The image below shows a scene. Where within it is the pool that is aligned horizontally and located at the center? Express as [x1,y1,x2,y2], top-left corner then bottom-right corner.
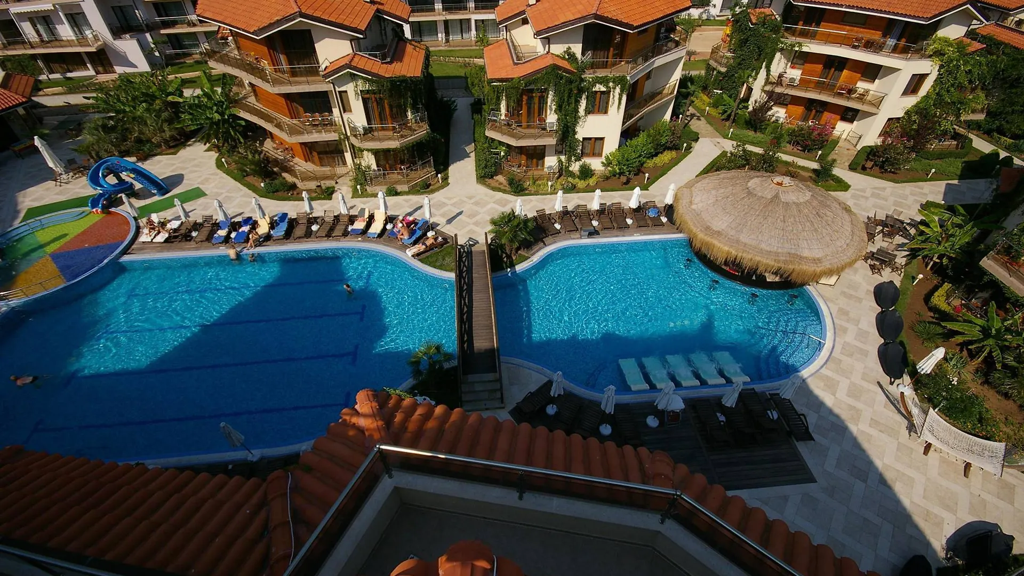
[0,237,825,459]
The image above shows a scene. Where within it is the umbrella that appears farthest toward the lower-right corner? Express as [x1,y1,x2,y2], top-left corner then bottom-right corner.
[910,349,944,384]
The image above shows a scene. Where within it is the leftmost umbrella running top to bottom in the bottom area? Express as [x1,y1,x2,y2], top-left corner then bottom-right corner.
[545,371,561,404]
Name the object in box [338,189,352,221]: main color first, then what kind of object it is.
white umbrella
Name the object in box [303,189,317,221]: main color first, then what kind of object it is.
white umbrella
